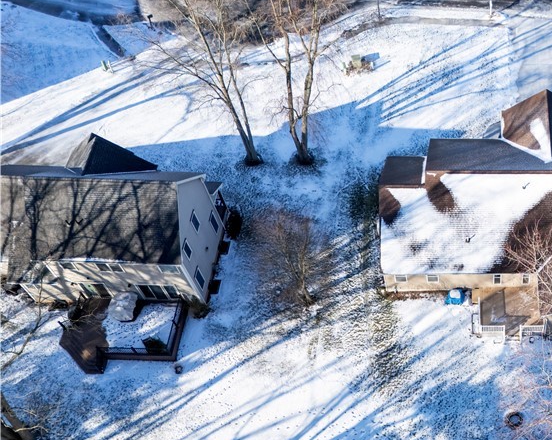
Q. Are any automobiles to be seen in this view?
No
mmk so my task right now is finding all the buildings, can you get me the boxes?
[377,90,552,336]
[0,137,232,304]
